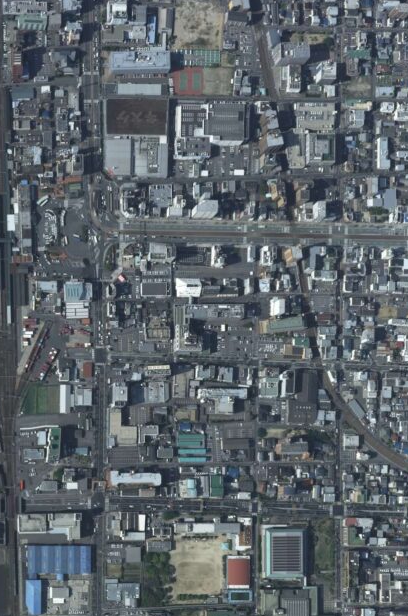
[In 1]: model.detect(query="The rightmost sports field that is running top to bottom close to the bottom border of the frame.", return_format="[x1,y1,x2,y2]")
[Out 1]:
[208,536,233,594]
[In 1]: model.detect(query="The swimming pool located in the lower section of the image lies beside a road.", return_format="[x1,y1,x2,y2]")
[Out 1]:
[228,590,252,603]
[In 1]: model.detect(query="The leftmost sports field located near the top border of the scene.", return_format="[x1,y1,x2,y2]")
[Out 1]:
[171,0,223,49]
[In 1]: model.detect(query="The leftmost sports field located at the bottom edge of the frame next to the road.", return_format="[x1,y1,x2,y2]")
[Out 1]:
[170,536,208,605]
